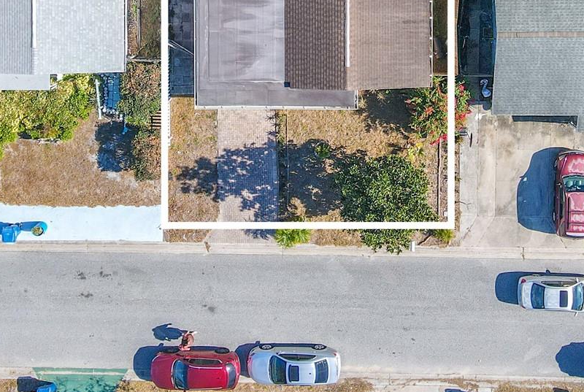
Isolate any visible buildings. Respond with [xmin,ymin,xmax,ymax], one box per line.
[0,0,131,90]
[193,0,435,111]
[493,0,584,132]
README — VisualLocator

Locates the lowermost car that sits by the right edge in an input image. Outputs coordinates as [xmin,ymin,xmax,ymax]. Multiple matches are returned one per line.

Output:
[517,271,584,312]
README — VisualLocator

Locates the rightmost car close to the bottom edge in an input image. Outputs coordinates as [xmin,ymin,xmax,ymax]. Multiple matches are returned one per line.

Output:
[246,343,341,385]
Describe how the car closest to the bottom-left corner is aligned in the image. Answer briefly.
from side to side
